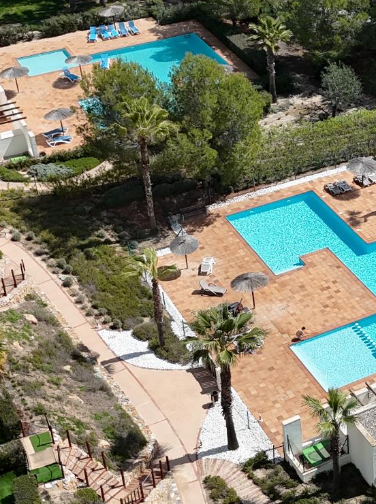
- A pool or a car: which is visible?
pool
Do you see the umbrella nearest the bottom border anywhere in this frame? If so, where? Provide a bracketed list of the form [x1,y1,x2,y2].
[231,263,272,309]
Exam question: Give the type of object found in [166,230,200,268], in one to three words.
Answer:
umbrella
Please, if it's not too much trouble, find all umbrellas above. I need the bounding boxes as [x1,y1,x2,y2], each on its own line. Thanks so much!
[166,230,200,268]
[96,2,125,20]
[42,103,71,130]
[0,63,28,91]
[62,50,92,78]
[346,154,376,188]
[231,263,272,309]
